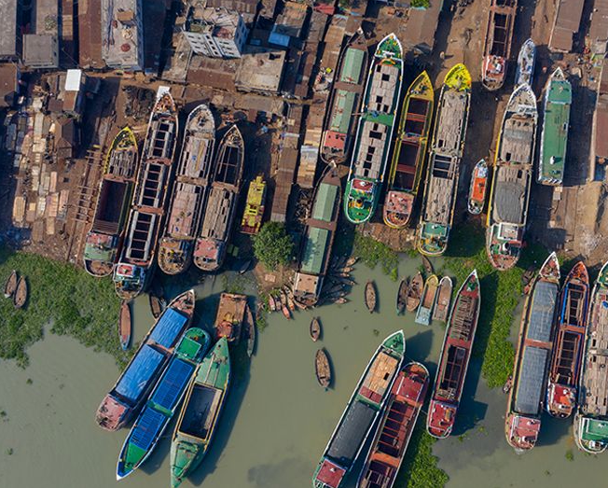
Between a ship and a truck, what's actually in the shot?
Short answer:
ship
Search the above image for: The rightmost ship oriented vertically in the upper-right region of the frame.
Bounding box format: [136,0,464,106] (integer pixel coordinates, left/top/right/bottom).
[536,66,569,185]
